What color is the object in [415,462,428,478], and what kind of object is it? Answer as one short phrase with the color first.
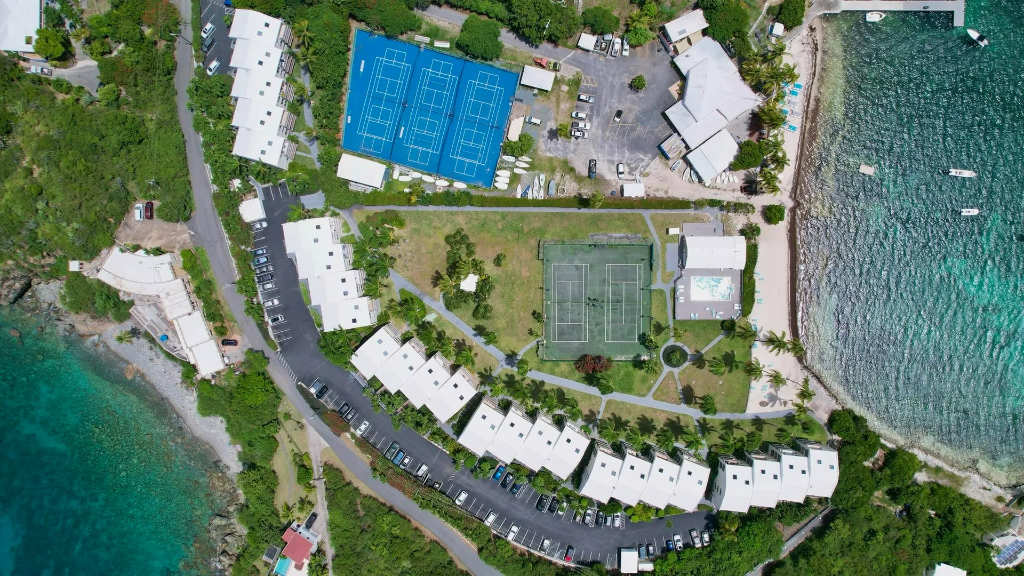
white vehicle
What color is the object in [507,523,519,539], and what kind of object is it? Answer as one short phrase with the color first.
white vehicle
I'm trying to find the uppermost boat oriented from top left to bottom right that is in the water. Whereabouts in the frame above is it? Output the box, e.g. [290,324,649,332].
[966,31,987,48]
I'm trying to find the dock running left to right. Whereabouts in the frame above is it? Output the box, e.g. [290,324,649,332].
[811,0,964,27]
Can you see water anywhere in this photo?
Yes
